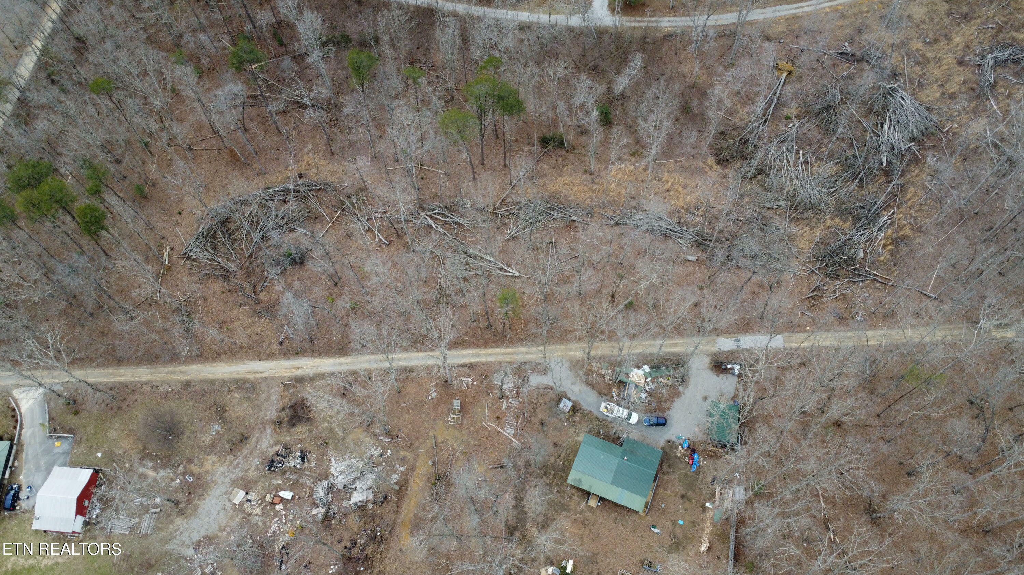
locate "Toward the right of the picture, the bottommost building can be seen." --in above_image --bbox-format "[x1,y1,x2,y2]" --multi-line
[567,434,662,517]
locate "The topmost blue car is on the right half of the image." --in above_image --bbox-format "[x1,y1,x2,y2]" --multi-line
[643,414,667,428]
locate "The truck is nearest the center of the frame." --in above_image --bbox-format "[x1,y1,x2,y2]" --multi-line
[598,401,639,424]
